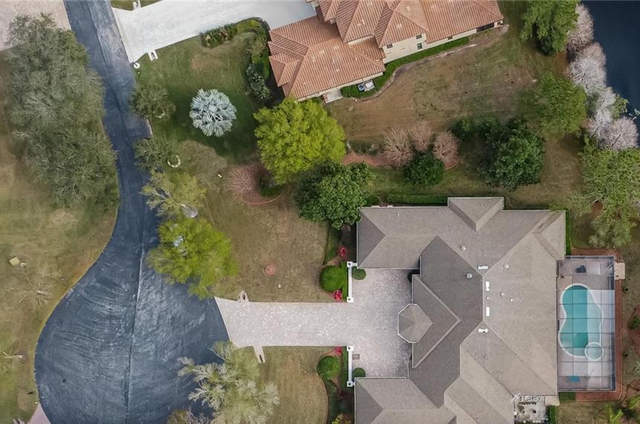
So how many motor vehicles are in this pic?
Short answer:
none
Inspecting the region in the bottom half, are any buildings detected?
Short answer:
Yes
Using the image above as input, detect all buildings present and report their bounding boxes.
[268,0,503,102]
[354,196,566,424]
